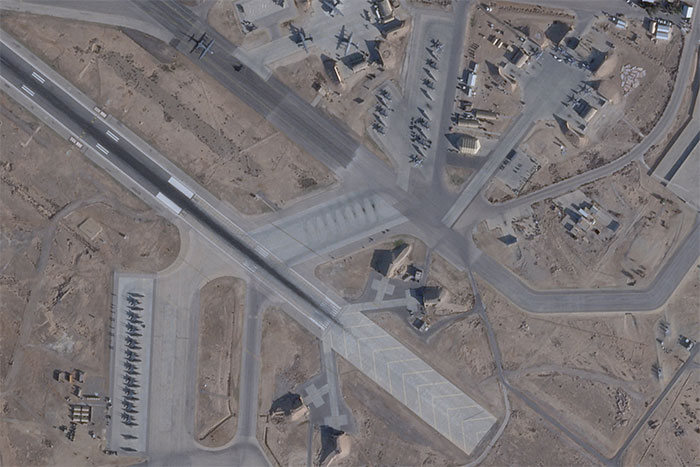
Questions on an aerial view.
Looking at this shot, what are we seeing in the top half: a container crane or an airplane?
airplane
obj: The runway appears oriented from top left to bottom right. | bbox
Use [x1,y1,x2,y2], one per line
[0,29,348,336]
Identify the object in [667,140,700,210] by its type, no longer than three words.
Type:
shed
